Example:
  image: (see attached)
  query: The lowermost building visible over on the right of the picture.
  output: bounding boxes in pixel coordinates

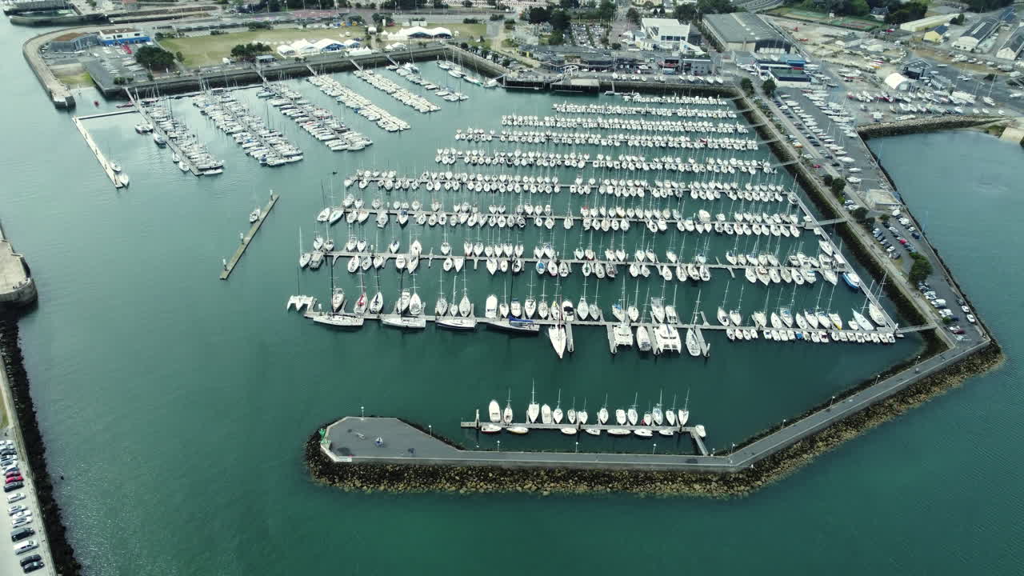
[865,189,903,211]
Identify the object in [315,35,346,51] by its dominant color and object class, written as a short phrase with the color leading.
white tent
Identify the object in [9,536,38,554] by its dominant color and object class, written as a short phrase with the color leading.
white vehicle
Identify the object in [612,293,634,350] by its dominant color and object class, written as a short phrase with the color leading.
white boat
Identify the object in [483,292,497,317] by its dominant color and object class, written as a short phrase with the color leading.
white boat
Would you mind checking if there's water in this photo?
Yes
